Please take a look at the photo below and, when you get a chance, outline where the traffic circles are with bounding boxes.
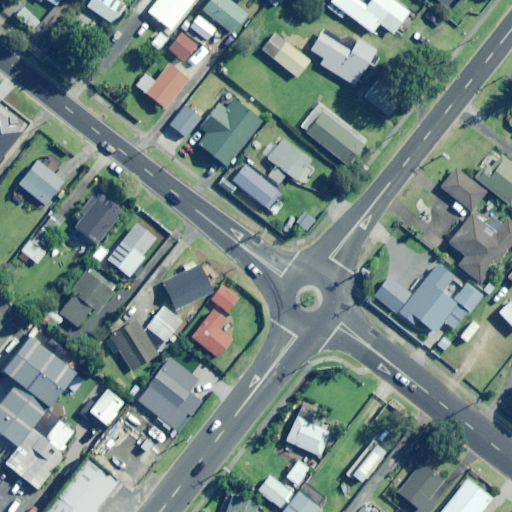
[262,227,366,366]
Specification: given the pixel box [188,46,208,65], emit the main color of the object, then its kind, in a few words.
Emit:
white camper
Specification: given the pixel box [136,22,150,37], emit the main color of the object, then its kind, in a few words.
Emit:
white vehicle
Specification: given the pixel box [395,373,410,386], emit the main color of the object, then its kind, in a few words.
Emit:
white vehicle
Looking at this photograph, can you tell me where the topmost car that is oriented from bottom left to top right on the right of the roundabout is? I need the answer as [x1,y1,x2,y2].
[494,286,508,302]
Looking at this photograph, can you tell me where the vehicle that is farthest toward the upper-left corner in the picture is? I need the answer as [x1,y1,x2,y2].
[110,30,124,44]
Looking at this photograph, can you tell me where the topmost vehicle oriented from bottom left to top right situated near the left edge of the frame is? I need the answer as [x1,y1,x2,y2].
[4,337,18,354]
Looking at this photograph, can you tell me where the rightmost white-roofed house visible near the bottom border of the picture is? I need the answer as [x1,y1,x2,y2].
[440,476,493,512]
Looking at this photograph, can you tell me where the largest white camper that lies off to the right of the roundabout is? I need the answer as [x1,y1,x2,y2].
[462,322,480,342]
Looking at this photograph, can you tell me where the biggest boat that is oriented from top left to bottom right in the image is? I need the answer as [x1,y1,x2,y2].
[146,426,166,442]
